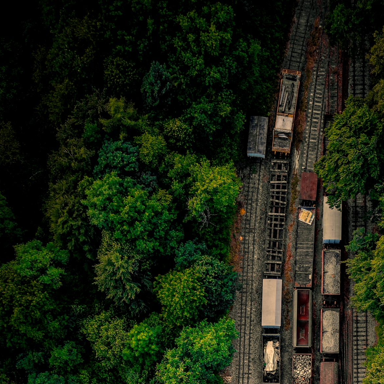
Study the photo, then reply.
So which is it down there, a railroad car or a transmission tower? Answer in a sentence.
Visible in the photo is a railroad car.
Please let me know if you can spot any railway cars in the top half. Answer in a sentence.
Yes, looking in the top half, one can make out a railway car.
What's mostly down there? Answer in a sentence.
For the most part, this view shows trees.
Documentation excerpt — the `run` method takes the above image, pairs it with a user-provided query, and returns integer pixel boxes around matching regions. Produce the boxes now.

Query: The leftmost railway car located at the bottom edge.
[262,333,281,384]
